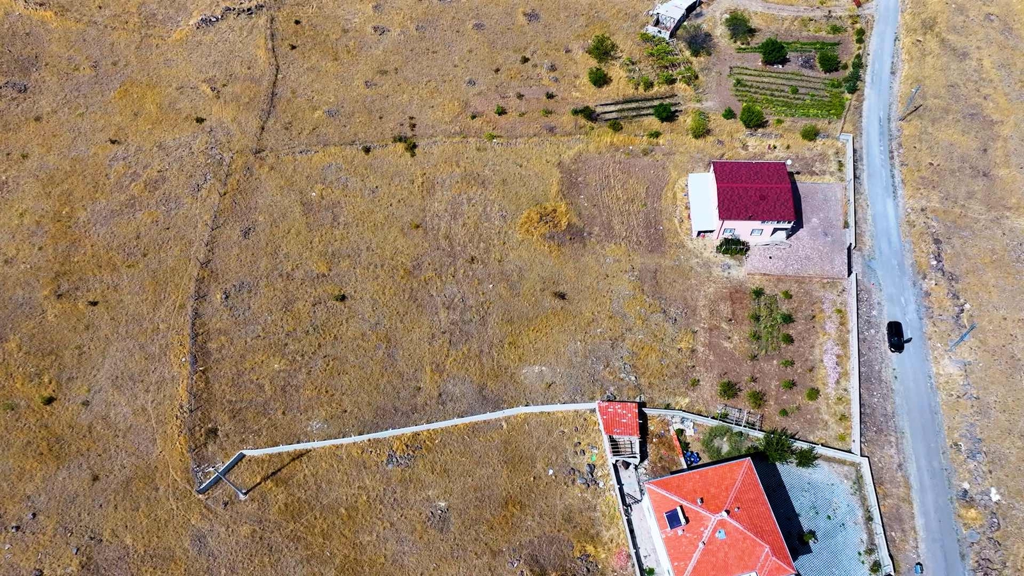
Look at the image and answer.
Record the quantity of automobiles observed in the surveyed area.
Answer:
one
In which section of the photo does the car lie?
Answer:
right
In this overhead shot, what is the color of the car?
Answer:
black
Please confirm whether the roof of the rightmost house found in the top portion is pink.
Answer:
Yes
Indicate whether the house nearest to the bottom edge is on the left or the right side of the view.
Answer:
right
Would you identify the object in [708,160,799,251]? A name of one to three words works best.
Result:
house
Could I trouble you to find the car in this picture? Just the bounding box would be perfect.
[884,322,911,355]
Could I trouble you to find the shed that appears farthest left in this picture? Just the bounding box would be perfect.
[596,402,647,469]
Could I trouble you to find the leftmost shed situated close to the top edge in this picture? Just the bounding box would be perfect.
[642,0,698,47]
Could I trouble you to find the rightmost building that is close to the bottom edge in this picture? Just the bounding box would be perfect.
[644,456,803,576]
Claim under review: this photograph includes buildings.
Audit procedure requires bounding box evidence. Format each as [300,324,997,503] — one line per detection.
[596,402,647,469]
[644,456,803,576]
[642,0,698,47]
[708,160,799,251]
